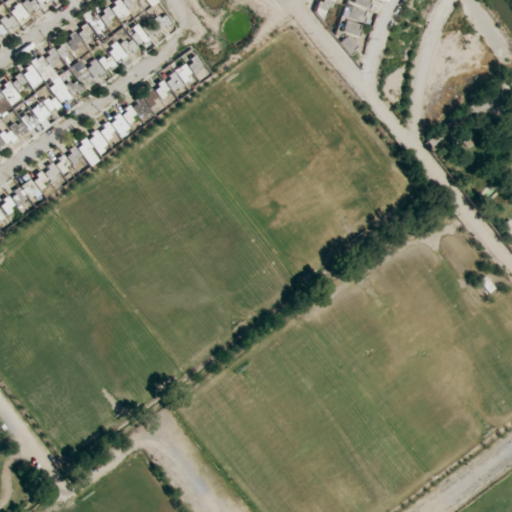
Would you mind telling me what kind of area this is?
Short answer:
sports ground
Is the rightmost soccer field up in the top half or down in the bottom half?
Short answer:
bottom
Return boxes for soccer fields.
[178,22,408,282]
[301,246,512,499]
[58,128,285,372]
[82,453,180,512]
[0,211,180,462]
[186,318,400,512]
